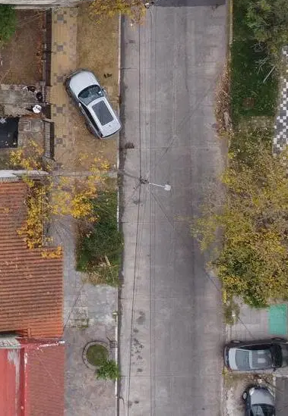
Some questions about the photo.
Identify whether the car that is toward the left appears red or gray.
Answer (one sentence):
In this view, the car that is toward the left is gray.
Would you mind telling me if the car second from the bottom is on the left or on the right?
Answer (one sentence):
The car second from the bottom sits on the right side.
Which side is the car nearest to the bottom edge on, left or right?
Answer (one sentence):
The car nearest to the bottom edge is on the right side of the image.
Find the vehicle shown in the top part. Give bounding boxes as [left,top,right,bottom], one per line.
[65,69,123,140]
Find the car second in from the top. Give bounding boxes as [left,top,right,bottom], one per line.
[222,336,288,373]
